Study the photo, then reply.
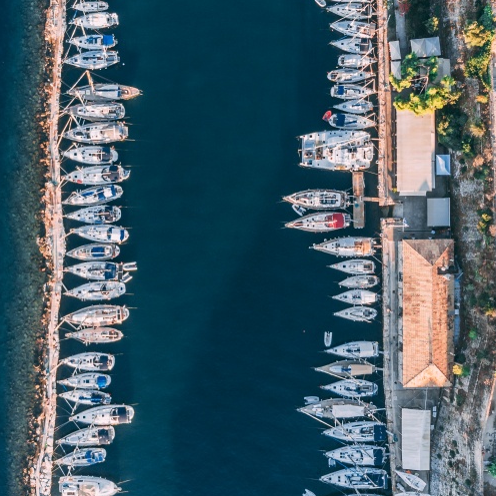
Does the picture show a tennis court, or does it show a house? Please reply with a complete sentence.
There is a house in the scene.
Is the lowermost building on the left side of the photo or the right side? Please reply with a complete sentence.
The lowermost building sits on the right side.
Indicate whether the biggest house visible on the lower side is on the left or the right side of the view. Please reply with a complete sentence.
It is on the right.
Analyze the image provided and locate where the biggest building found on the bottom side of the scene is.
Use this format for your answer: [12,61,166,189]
[399,236,460,388]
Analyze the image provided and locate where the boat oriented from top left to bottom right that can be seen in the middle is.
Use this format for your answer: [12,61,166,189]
[292,204,306,218]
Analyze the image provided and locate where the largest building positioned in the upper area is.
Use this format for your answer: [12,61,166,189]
[391,109,435,196]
